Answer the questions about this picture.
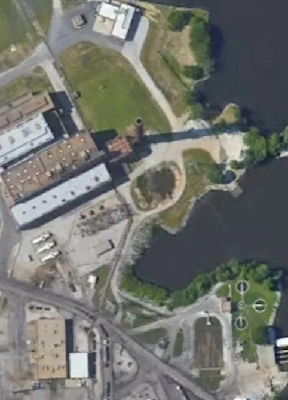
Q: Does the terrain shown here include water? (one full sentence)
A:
Yes, water can be seen from above here.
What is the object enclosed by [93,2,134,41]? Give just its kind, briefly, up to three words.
building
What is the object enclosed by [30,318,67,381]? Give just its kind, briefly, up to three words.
building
